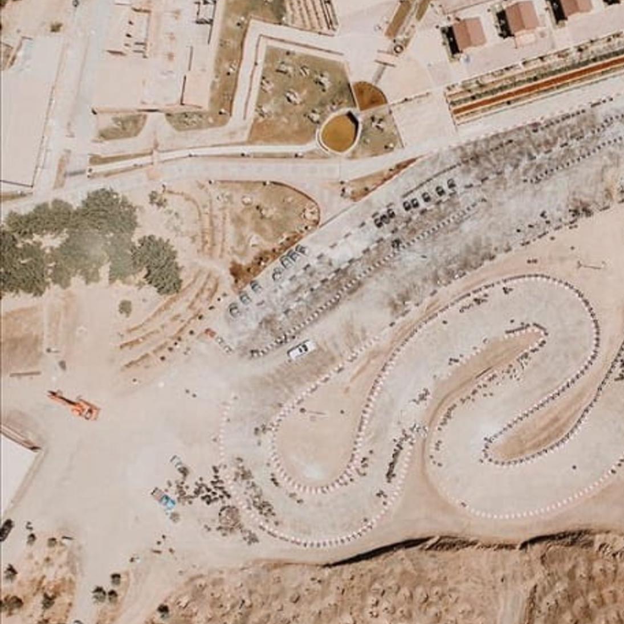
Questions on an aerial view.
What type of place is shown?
sports ground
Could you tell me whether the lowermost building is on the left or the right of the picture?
left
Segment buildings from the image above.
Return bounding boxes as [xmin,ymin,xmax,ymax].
[563,0,595,24]
[0,35,63,187]
[0,427,46,526]
[452,16,487,59]
[505,0,541,41]
[92,0,227,115]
